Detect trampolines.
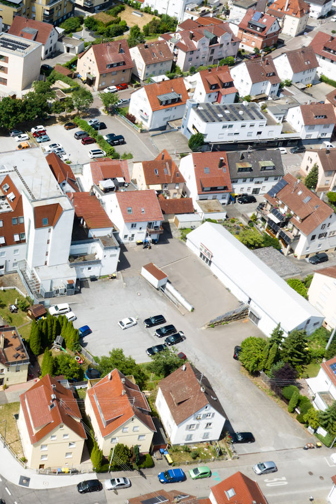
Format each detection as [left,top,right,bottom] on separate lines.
[83,361,103,380]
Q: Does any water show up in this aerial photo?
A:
No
